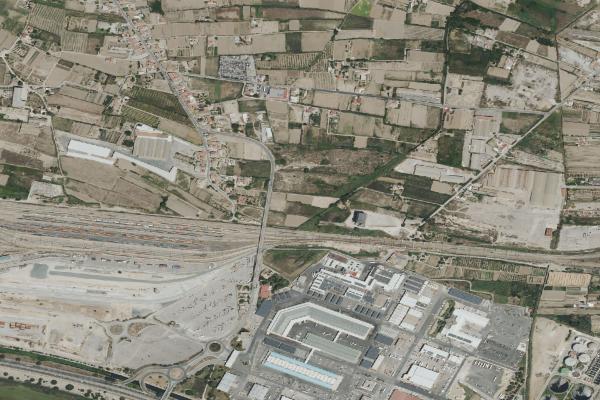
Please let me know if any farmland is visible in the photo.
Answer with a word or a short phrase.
Yes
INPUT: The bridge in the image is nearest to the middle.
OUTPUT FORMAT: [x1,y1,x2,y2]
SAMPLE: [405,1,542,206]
[253,184,274,298]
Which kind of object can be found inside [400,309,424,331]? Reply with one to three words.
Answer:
building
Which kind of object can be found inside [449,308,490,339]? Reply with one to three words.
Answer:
building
